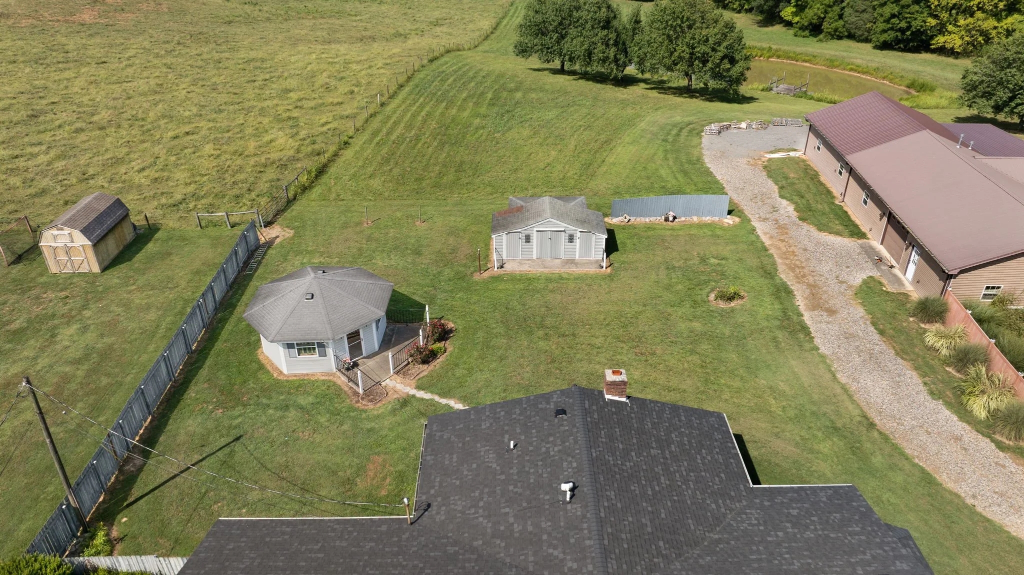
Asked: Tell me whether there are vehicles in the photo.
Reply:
No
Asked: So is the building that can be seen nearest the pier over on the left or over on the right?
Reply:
right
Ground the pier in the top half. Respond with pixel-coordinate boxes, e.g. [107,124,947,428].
[770,69,812,97]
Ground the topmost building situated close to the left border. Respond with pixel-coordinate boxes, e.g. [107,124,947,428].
[37,190,133,273]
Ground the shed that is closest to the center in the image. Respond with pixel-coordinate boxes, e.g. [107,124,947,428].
[491,196,607,259]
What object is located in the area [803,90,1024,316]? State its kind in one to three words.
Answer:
building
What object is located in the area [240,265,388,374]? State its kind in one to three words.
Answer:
house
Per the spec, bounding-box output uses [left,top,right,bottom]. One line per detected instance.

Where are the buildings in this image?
[182,368,932,575]
[491,196,607,259]
[37,190,133,273]
[240,265,388,374]
[803,90,1024,316]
